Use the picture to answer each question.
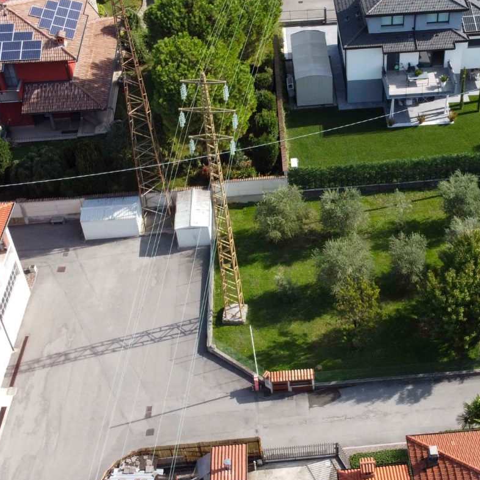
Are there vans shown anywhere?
No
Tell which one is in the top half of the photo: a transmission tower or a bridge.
transmission tower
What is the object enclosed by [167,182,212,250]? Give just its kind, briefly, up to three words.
shed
